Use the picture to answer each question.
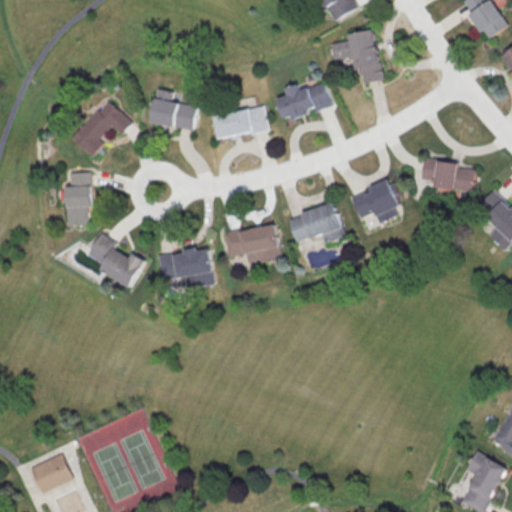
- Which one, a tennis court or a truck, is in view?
tennis court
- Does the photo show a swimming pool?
Yes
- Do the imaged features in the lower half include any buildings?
Yes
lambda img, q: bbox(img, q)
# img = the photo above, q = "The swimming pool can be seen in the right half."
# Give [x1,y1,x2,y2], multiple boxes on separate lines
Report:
[308,250,338,267]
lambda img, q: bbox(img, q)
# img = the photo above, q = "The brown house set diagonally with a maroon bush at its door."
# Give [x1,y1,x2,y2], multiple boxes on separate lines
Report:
[75,102,132,156]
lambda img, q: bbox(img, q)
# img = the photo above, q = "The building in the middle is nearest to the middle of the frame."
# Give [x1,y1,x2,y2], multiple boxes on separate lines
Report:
[226,225,281,264]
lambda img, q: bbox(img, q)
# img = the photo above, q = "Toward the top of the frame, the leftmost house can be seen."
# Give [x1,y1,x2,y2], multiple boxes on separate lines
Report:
[62,172,94,227]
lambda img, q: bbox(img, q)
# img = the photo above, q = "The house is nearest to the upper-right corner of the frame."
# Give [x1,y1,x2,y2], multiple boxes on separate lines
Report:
[465,0,508,38]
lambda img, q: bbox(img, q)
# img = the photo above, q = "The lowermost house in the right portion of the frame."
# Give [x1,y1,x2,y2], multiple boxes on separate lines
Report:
[463,450,508,512]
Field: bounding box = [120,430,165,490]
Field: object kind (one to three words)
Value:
tennis court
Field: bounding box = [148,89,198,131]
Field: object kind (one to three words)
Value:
house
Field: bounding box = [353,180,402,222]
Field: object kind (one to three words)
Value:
house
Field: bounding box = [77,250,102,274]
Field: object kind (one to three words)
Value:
swimming pool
